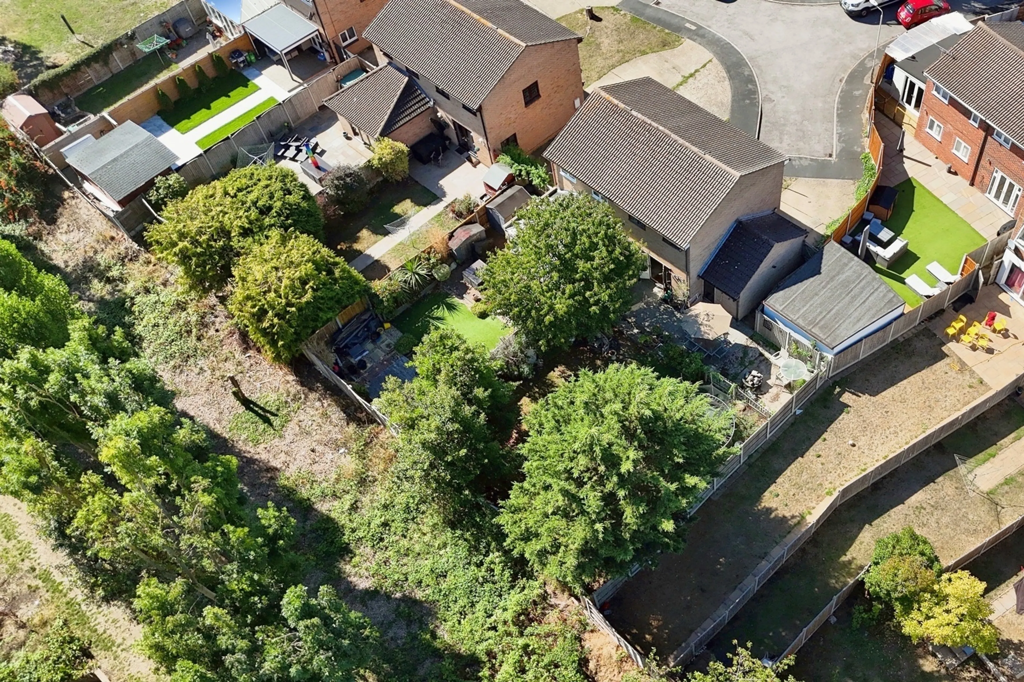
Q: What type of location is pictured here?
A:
residential area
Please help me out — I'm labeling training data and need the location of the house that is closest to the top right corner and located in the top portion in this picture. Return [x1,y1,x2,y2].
[895,18,1024,212]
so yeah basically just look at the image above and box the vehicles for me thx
[842,0,903,20]
[895,0,952,32]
